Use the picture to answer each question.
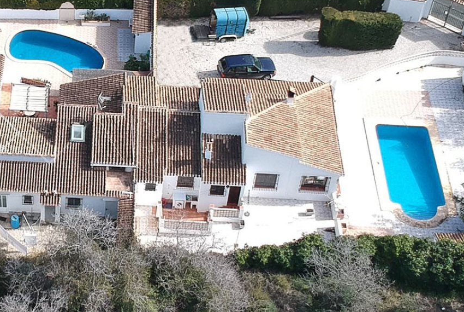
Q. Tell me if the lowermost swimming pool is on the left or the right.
right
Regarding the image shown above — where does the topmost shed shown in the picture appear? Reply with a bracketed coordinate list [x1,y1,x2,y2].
[132,0,154,54]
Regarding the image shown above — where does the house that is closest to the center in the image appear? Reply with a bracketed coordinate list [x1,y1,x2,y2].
[201,78,345,204]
